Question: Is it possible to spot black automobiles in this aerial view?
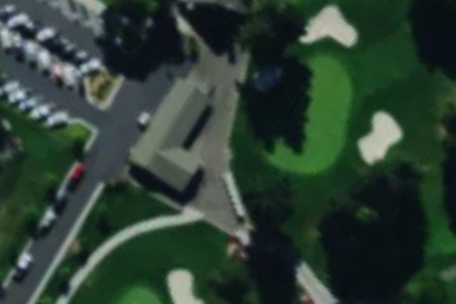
Yes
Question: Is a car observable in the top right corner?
No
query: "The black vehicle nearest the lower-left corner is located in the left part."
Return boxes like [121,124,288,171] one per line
[52,193,69,214]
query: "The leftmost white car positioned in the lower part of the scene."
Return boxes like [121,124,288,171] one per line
[16,251,33,271]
